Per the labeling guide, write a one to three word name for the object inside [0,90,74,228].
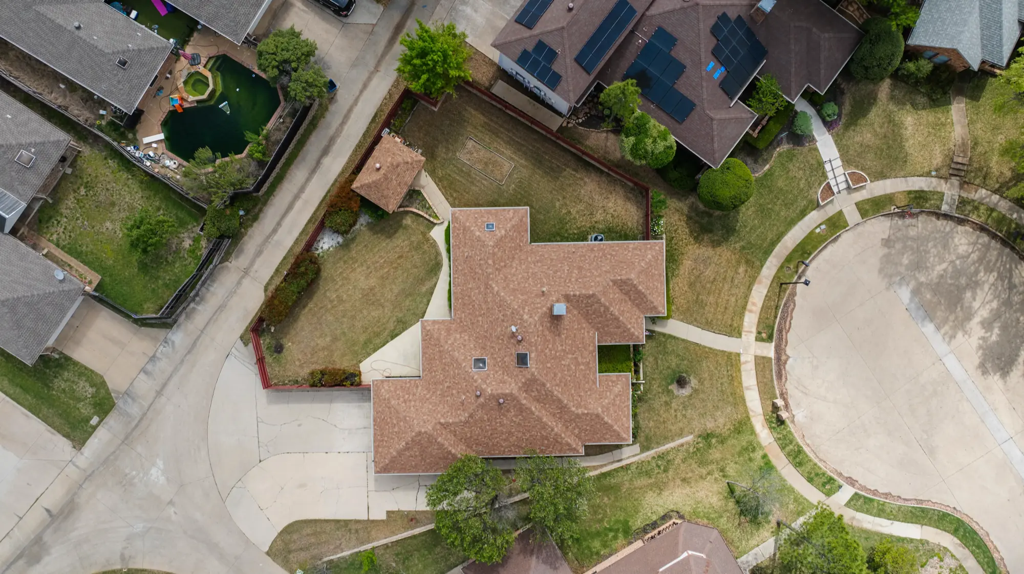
house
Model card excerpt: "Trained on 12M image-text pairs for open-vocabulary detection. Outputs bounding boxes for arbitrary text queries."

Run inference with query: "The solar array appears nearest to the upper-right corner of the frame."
[709,11,768,101]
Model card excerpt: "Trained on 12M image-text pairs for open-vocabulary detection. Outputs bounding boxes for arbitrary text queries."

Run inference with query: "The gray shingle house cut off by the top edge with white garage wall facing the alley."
[169,0,286,51]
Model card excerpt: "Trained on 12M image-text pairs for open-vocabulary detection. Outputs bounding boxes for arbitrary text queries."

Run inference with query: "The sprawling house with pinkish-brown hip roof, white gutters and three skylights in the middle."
[371,206,667,476]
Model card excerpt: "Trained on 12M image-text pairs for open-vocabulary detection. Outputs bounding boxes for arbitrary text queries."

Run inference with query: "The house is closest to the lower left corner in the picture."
[0,219,102,365]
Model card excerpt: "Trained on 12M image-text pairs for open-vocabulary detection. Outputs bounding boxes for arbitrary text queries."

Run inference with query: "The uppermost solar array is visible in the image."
[515,0,555,28]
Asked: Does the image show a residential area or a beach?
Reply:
residential area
